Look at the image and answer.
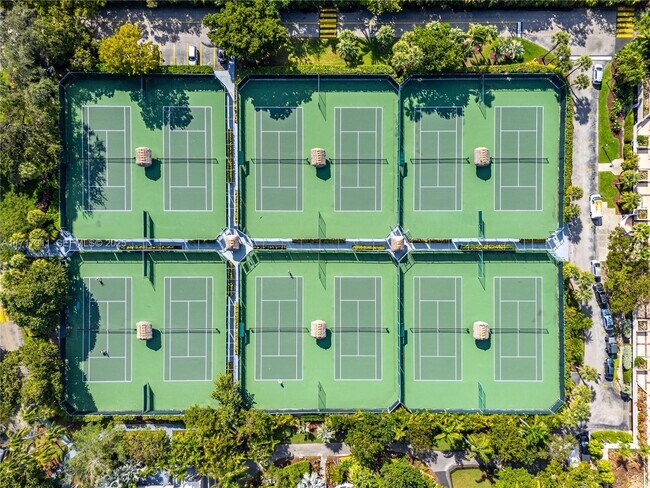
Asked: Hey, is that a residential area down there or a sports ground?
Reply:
sports ground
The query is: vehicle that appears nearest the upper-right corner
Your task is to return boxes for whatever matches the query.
[592,64,604,86]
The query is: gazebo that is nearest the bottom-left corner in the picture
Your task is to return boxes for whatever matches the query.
[138,320,155,340]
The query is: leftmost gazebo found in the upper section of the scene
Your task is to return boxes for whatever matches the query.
[137,148,154,168]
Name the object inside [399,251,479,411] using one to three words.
tennis court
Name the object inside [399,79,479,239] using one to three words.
tennis court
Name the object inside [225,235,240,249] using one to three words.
gazebo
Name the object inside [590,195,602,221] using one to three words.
vehicle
